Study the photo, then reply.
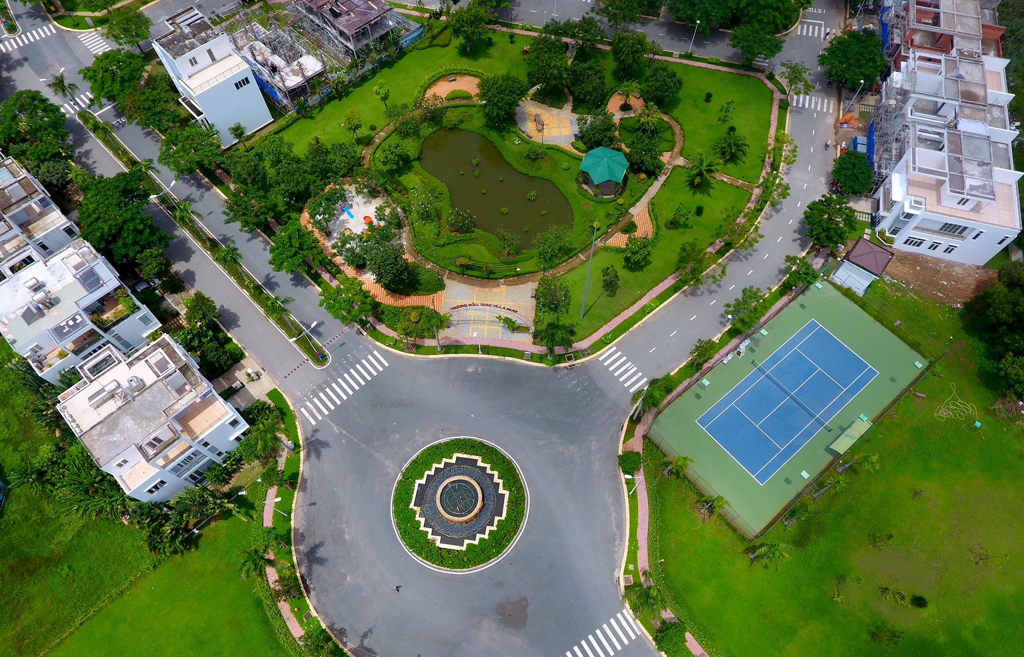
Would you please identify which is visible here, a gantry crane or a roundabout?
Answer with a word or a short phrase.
roundabout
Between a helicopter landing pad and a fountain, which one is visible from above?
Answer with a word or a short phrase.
fountain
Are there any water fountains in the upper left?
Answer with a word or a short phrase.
No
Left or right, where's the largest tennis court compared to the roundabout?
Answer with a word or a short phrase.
on the right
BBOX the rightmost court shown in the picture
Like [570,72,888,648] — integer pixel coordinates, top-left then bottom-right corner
[653,280,929,531]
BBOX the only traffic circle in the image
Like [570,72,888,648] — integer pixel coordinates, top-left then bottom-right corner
[390,437,531,580]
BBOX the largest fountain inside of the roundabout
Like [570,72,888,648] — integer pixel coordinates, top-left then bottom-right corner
[408,452,511,556]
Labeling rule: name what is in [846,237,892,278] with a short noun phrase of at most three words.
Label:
shed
